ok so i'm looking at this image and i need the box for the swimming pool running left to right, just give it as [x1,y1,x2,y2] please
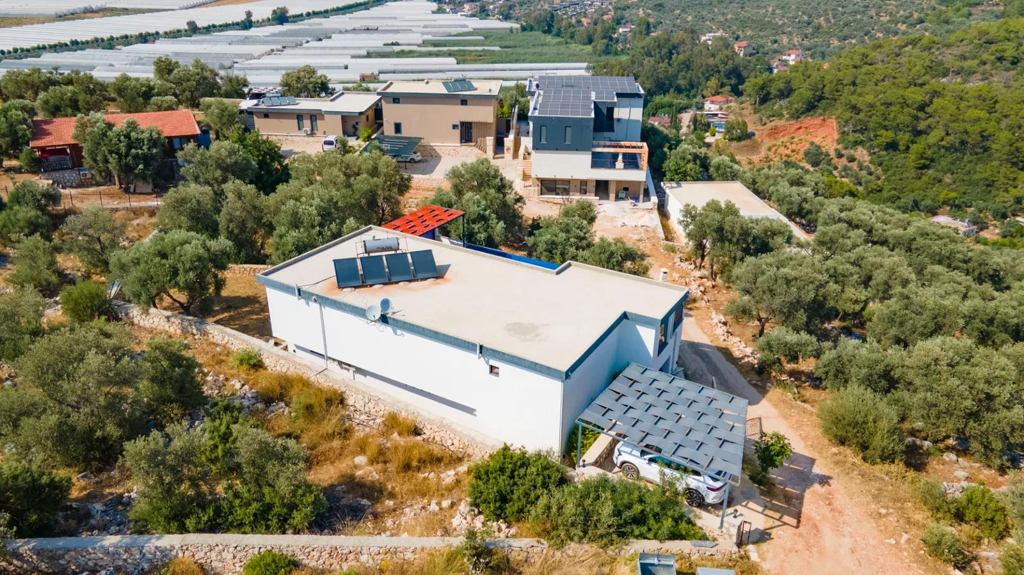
[454,236,563,268]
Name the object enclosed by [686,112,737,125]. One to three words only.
shed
